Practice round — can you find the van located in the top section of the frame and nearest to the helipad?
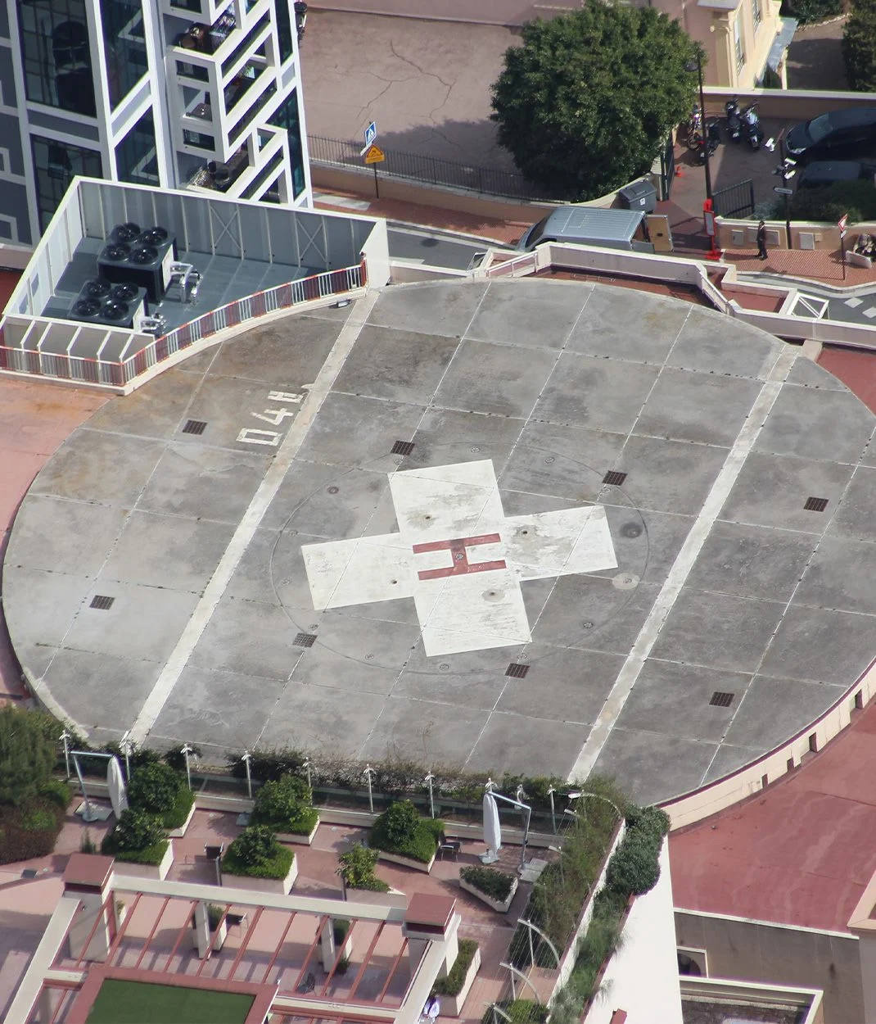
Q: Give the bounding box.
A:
[510,203,671,254]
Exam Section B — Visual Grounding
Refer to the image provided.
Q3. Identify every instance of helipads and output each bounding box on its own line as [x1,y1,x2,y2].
[1,279,876,837]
